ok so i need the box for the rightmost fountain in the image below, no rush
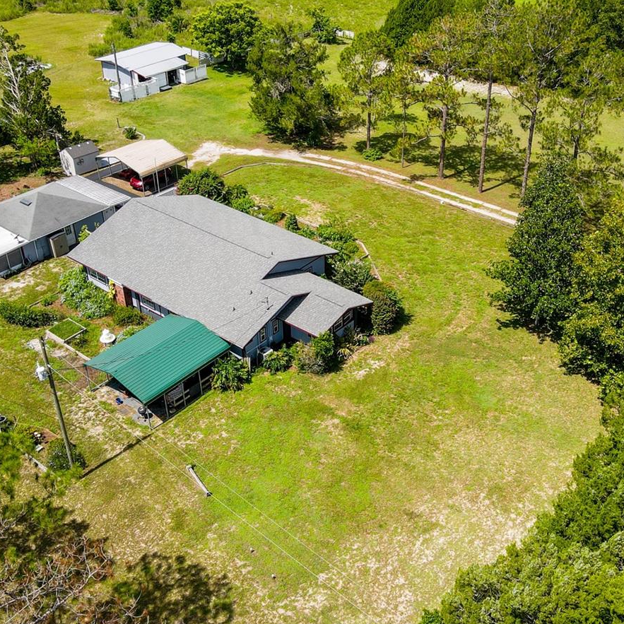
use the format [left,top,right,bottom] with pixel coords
[97,327,115,346]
